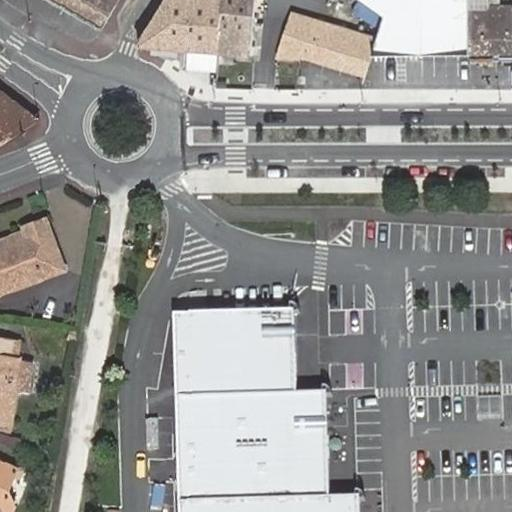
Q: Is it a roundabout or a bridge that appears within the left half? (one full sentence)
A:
What appears within the left half is a roundabout.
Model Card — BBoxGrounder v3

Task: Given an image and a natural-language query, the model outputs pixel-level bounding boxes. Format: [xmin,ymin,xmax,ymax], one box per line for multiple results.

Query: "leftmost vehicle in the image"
[43,298,56,318]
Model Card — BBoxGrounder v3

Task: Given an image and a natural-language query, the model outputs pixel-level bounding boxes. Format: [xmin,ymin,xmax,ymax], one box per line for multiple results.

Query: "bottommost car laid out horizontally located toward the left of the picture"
[180,290,208,302]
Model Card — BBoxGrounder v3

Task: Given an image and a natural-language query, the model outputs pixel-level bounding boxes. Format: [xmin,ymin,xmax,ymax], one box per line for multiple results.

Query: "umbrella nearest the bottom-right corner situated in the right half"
[329,437,342,451]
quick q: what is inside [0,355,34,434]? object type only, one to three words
house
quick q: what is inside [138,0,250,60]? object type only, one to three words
house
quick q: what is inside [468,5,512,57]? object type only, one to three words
building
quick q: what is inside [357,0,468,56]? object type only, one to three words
building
